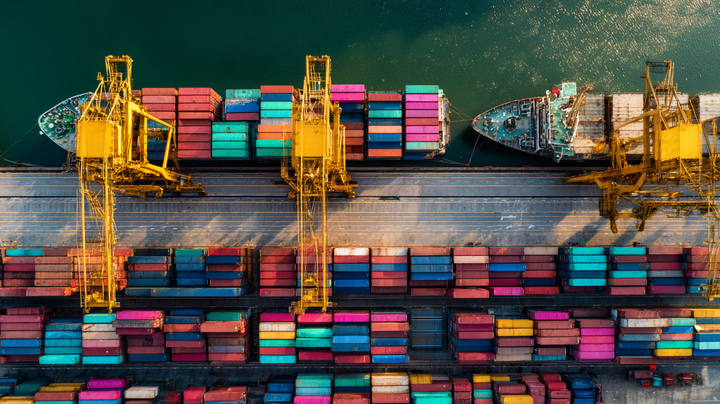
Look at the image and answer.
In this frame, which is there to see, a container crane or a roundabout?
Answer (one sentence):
Of the two, only a container crane appears.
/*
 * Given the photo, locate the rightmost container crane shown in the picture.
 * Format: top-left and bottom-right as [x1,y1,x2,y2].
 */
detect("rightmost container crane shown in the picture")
[562,60,720,311]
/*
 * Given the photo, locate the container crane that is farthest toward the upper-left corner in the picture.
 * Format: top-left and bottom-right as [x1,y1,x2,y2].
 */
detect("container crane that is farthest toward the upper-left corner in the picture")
[73,60,212,311]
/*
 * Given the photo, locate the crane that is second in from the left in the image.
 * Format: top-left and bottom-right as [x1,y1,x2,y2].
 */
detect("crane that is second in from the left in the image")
[284,60,364,311]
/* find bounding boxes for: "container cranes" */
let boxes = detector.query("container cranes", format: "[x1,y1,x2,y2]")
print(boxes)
[562,60,720,311]
[284,60,364,311]
[73,60,212,311]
